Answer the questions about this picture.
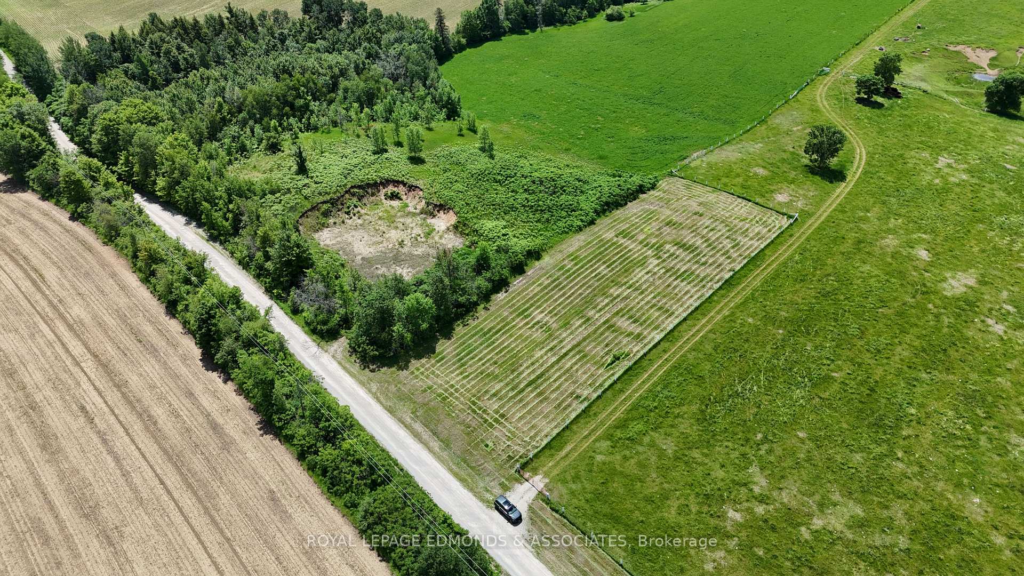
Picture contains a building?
No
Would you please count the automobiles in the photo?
1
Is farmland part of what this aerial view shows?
Yes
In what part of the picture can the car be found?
bottom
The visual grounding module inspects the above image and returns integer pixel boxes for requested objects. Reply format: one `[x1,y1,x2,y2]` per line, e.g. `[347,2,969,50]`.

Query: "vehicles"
[492,497,520,526]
